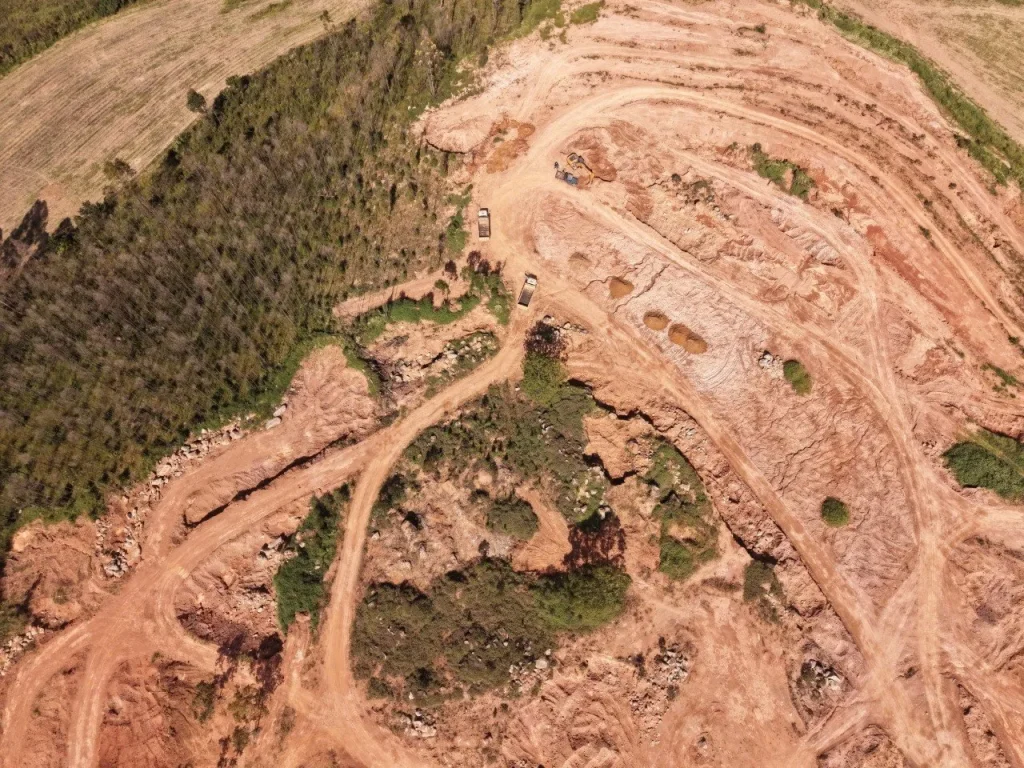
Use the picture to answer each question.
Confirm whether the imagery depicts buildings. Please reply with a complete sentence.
No, the photo shows no building.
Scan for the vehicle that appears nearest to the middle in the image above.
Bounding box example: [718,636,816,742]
[517,273,537,306]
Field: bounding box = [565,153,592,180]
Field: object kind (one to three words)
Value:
work vehicle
